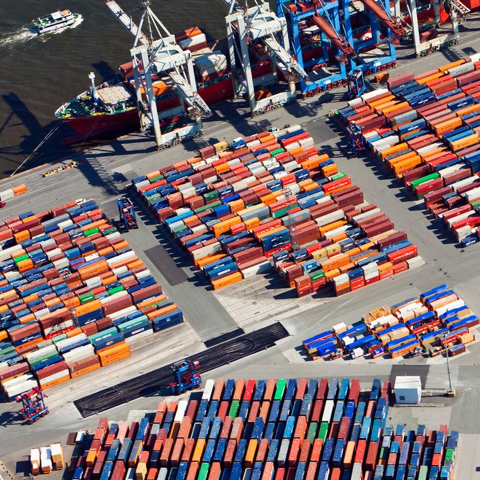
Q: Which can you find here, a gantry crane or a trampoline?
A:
gantry crane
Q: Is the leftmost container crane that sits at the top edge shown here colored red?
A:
No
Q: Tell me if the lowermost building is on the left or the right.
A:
right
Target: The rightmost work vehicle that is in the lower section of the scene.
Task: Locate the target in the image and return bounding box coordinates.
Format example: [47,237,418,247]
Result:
[170,344,200,386]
